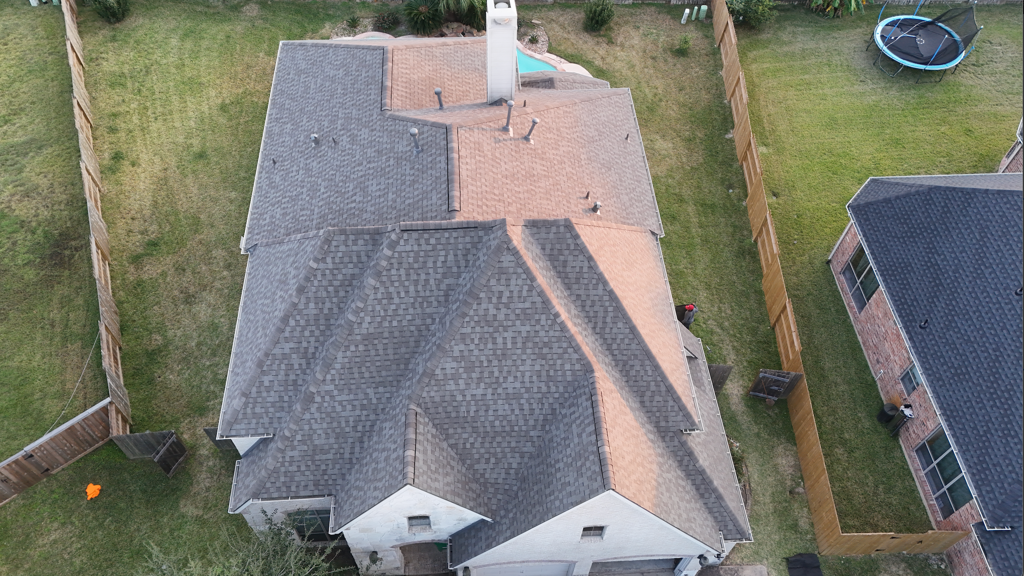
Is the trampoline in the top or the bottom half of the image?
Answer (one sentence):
It is in the top half that the trampoline appears.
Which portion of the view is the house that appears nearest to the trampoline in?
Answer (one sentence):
You can find the house that appears nearest to the trampoline in the right area of the picture.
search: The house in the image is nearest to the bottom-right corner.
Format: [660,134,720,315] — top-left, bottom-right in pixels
[817,122,1024,576]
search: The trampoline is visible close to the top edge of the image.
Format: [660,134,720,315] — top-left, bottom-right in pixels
[869,0,983,85]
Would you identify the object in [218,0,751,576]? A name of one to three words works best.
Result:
house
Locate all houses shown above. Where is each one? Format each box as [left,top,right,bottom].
[817,122,1024,576]
[218,0,751,576]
